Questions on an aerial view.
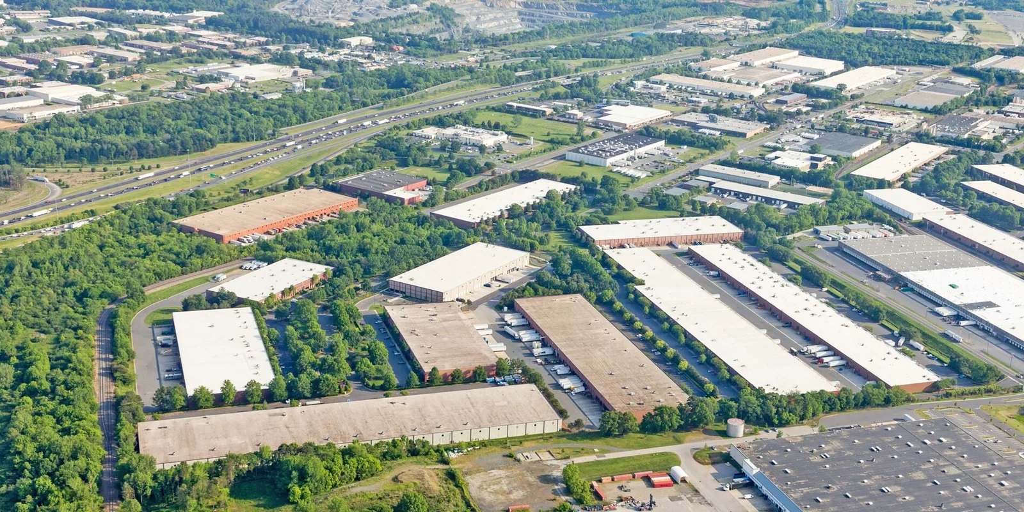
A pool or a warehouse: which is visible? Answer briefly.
warehouse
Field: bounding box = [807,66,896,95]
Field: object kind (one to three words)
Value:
building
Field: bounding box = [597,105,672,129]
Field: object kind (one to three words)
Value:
building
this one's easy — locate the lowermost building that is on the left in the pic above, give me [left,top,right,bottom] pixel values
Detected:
[137,384,561,474]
